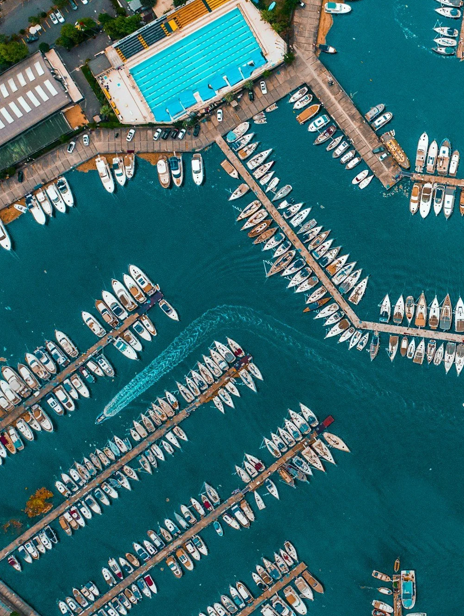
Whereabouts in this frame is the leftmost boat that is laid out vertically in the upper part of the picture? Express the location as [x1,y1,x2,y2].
[0,219,12,249]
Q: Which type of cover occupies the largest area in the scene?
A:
water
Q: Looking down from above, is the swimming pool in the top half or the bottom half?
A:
top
